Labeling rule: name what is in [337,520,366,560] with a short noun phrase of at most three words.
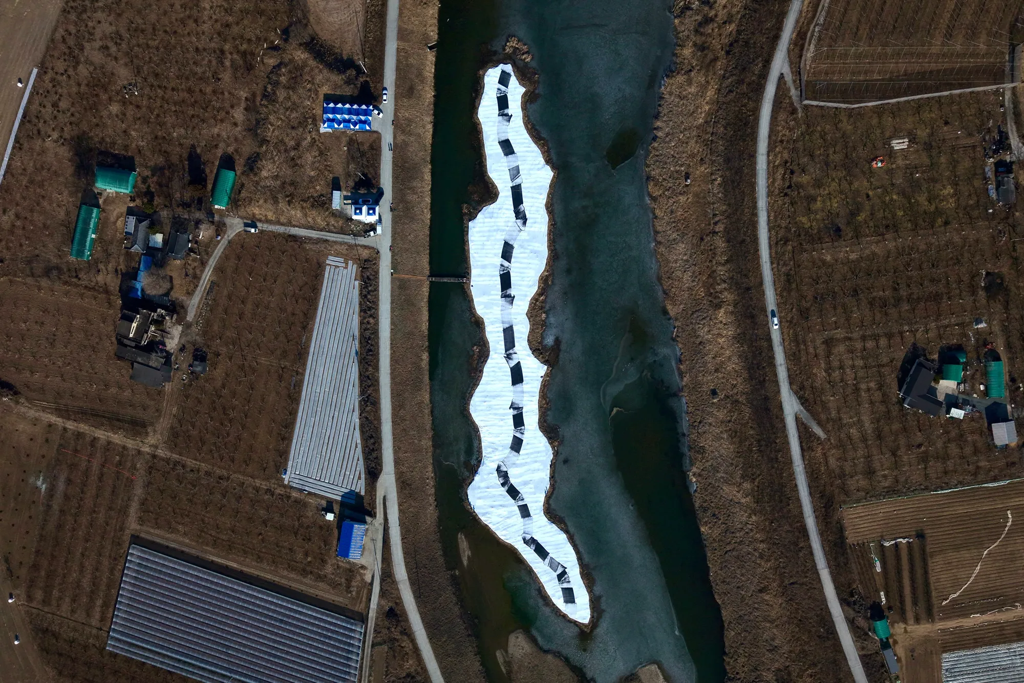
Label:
building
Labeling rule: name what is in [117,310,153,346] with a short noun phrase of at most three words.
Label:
house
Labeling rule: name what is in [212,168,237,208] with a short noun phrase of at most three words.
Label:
house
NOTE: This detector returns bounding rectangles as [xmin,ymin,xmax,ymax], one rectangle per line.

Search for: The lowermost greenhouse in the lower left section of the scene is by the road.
[108,543,366,683]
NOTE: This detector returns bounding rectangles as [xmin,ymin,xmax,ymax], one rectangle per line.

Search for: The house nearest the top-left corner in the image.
[92,168,138,194]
